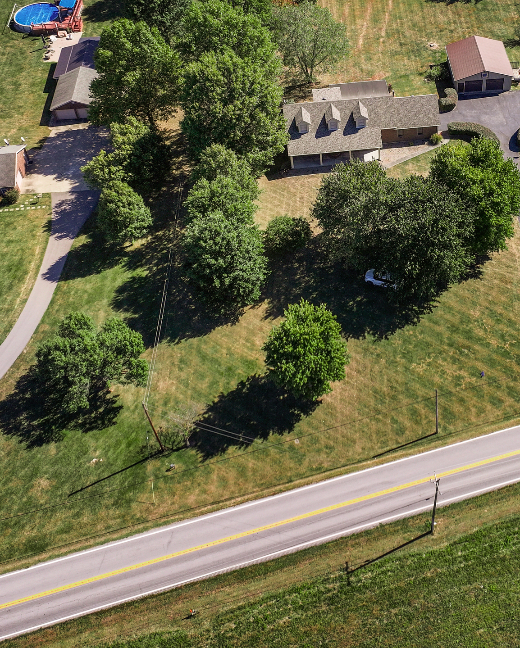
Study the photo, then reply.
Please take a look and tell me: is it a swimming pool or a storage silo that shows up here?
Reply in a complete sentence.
Looking from above, you can make out a swimming pool.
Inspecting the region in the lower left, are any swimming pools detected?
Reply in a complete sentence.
No, I see no swimming pool in the lower left.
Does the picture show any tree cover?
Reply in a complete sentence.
Yes, the picture does contain tree cover.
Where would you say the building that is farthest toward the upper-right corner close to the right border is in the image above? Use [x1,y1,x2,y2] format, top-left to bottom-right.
[445,35,515,96]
